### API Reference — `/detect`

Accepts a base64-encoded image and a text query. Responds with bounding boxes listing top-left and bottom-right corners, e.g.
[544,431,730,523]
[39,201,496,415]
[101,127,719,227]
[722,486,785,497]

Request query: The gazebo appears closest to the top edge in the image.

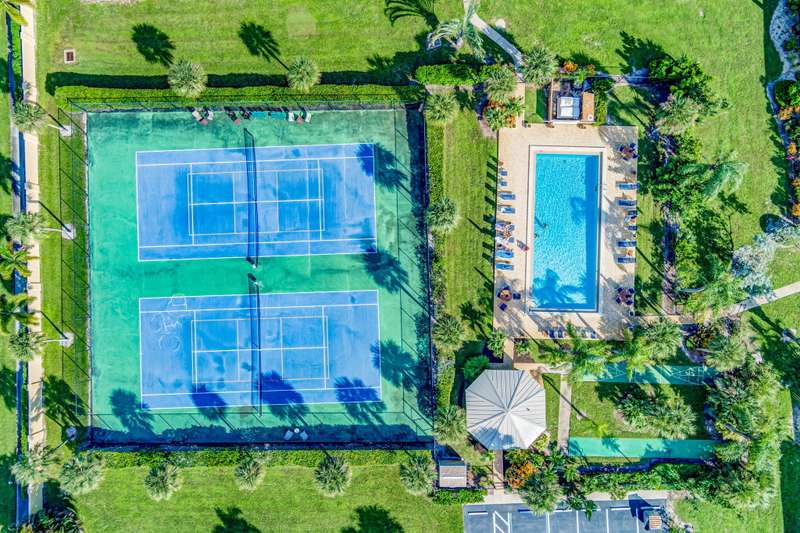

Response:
[466,369,545,449]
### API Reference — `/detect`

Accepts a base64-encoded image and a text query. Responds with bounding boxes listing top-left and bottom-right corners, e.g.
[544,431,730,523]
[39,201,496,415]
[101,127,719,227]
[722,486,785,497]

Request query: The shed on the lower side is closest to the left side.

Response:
[439,460,467,487]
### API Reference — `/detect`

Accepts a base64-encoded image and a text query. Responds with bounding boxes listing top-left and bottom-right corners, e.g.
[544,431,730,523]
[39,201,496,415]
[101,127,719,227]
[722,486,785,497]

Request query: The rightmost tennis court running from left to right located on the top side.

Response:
[136,144,377,261]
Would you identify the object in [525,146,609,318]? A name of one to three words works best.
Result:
swimming pool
